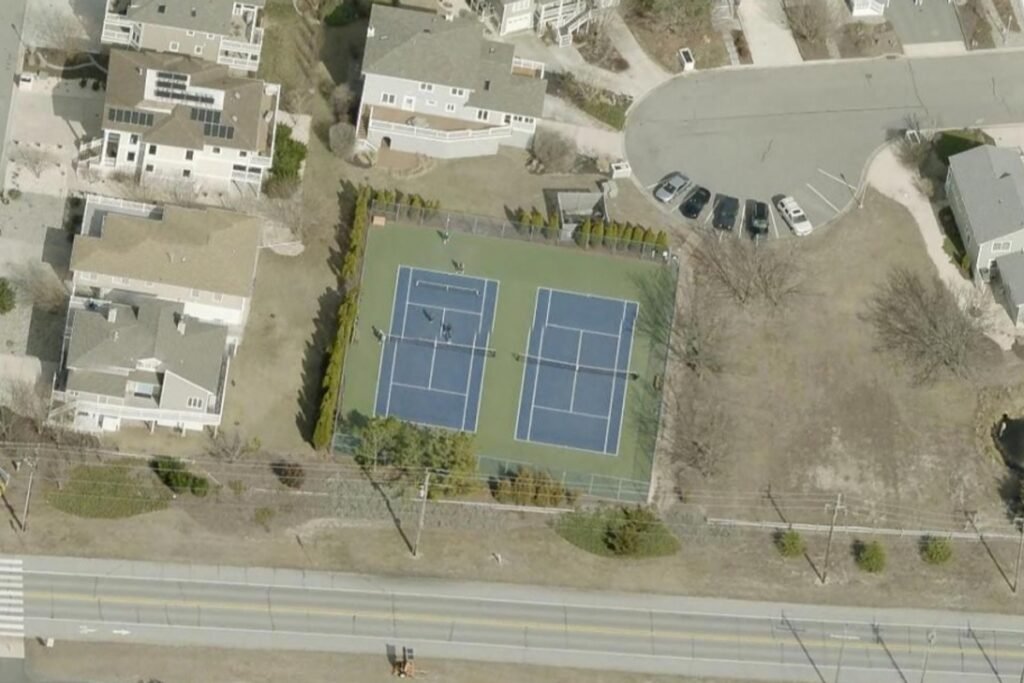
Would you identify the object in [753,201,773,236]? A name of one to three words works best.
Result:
car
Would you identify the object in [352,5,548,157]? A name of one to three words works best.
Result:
house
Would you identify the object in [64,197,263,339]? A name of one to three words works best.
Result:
house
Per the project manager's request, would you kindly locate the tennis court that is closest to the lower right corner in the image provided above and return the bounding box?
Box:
[491,244,677,502]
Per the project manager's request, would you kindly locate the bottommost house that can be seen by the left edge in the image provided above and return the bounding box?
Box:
[38,291,239,441]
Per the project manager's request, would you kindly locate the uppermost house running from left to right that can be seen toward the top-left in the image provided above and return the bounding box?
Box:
[97,0,272,78]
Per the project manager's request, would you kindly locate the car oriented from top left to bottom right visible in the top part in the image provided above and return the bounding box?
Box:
[780,197,812,235]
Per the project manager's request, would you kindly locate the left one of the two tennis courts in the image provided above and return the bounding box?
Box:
[334,223,520,478]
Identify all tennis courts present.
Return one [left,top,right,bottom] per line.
[334,223,520,478]
[491,244,677,502]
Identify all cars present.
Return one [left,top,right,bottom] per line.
[780,197,812,235]
[656,176,692,204]
[682,188,715,219]
[753,201,773,236]
[715,194,740,232]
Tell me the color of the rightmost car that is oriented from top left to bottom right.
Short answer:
white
